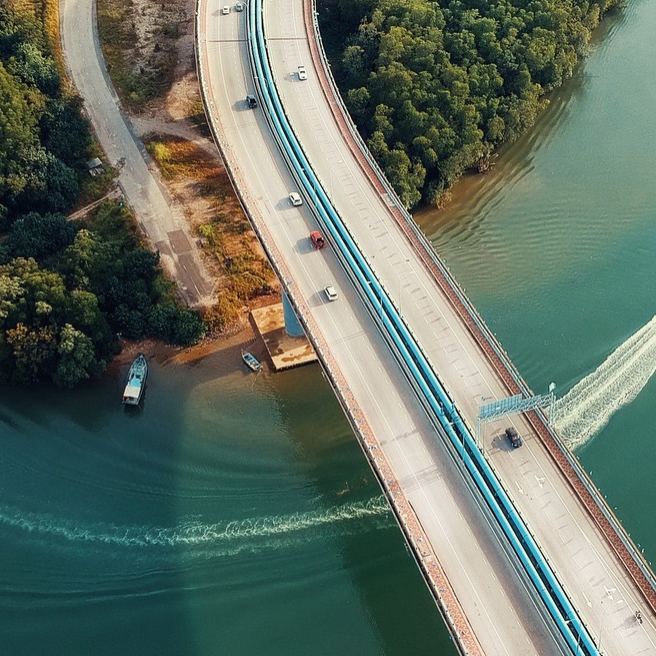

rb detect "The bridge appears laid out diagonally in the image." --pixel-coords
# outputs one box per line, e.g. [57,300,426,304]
[191,0,656,656]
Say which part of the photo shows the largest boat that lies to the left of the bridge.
left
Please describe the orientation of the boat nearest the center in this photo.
on a diagonal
